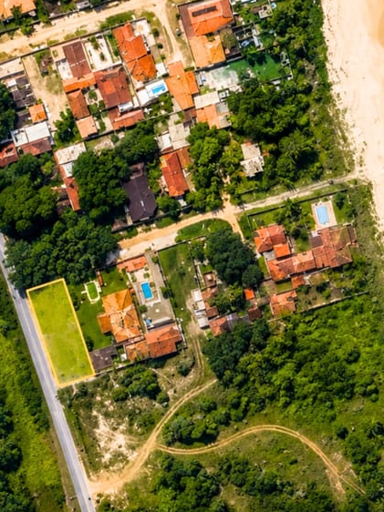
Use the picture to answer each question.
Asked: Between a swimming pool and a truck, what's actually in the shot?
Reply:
swimming pool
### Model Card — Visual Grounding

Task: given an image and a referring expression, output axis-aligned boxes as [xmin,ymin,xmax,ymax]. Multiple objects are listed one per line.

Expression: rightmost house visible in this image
[310,224,358,269]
